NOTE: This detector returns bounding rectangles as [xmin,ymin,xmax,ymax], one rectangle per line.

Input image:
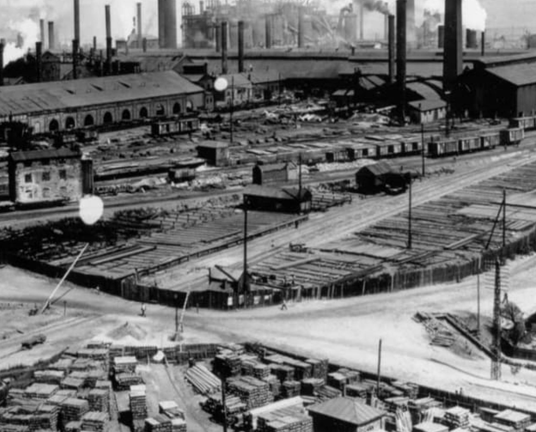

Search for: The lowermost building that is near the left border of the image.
[0,143,86,205]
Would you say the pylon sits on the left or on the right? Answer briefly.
right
